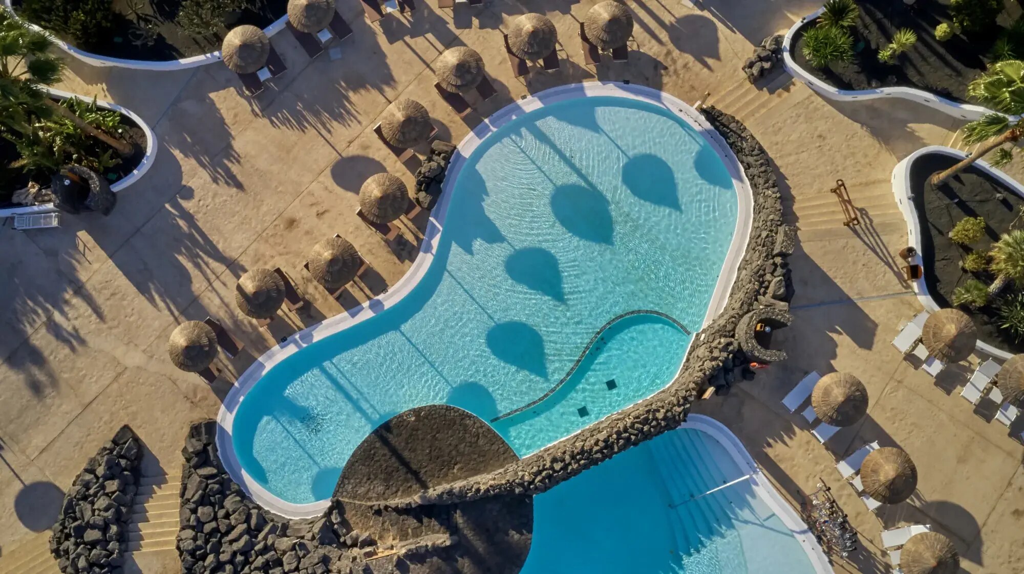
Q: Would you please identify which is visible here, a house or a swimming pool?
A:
swimming pool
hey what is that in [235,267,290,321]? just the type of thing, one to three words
umbrella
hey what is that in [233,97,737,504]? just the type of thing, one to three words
swimming pool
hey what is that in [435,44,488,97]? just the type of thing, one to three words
umbrella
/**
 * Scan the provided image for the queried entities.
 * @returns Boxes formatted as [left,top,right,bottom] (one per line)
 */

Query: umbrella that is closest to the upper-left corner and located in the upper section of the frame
[220,23,274,76]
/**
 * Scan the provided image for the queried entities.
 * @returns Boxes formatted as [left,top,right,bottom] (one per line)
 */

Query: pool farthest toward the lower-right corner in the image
[520,425,816,574]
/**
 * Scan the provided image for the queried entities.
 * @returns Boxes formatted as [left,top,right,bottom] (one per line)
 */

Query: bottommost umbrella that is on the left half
[166,319,220,372]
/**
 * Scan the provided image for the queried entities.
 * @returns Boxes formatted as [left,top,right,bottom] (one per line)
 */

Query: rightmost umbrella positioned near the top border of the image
[582,0,636,51]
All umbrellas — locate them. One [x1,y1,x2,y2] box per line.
[358,171,412,225]
[220,23,274,76]
[310,235,364,289]
[986,349,1024,410]
[235,267,290,321]
[286,0,340,36]
[807,367,869,428]
[897,523,959,574]
[582,0,636,51]
[166,319,220,372]
[379,98,434,152]
[854,446,916,506]
[916,305,977,365]
[435,44,488,97]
